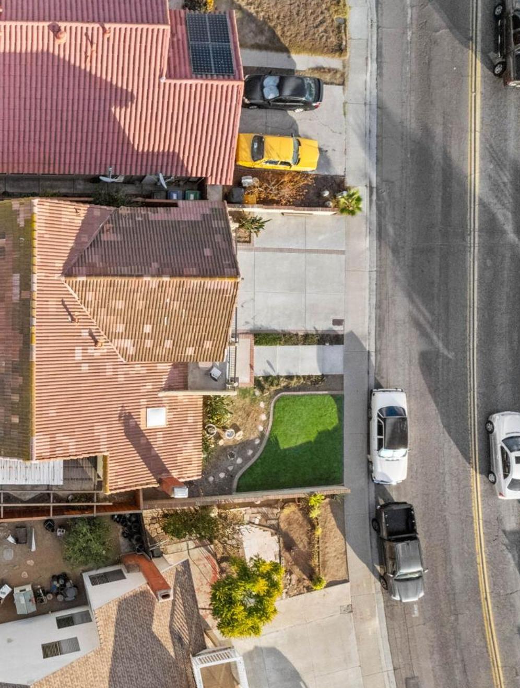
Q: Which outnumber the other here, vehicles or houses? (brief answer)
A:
vehicles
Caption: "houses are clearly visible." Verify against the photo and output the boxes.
[0,197,243,502]
[0,542,205,688]
[0,0,245,185]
